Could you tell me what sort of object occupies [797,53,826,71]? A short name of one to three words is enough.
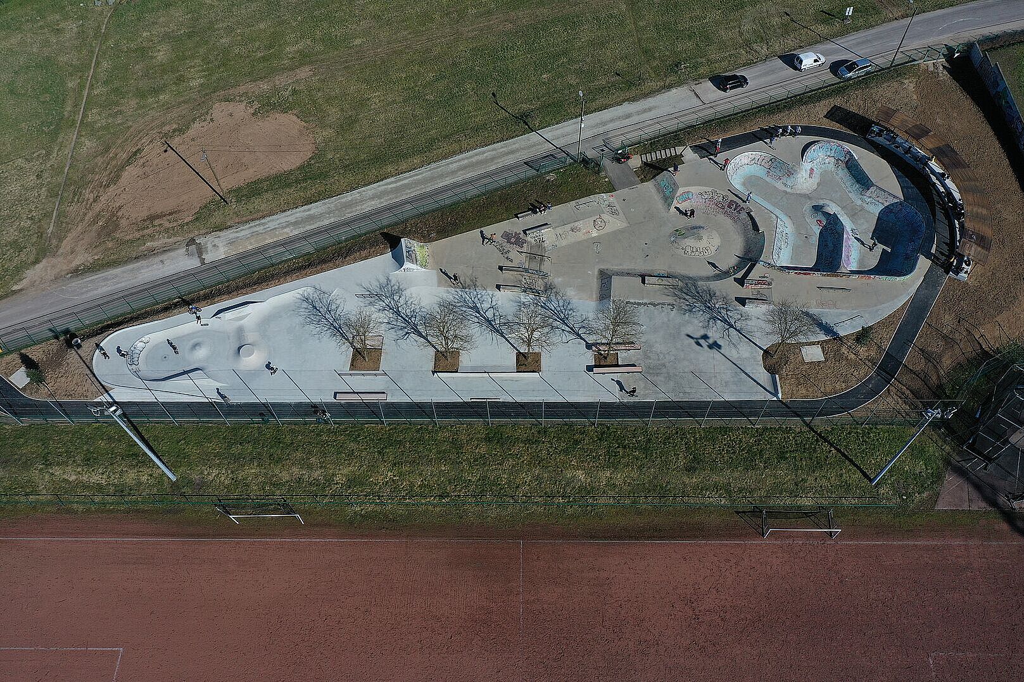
vehicle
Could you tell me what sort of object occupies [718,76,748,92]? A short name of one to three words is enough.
car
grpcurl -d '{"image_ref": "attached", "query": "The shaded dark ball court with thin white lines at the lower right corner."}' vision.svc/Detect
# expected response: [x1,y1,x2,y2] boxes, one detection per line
[937,382,1024,510]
